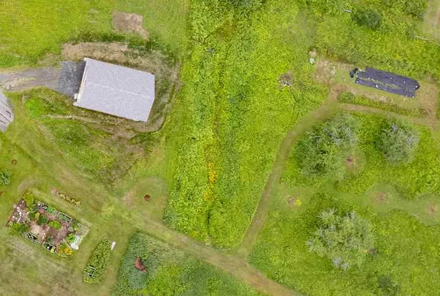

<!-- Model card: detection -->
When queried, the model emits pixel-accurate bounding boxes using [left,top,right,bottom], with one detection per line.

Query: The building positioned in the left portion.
[69,57,155,121]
